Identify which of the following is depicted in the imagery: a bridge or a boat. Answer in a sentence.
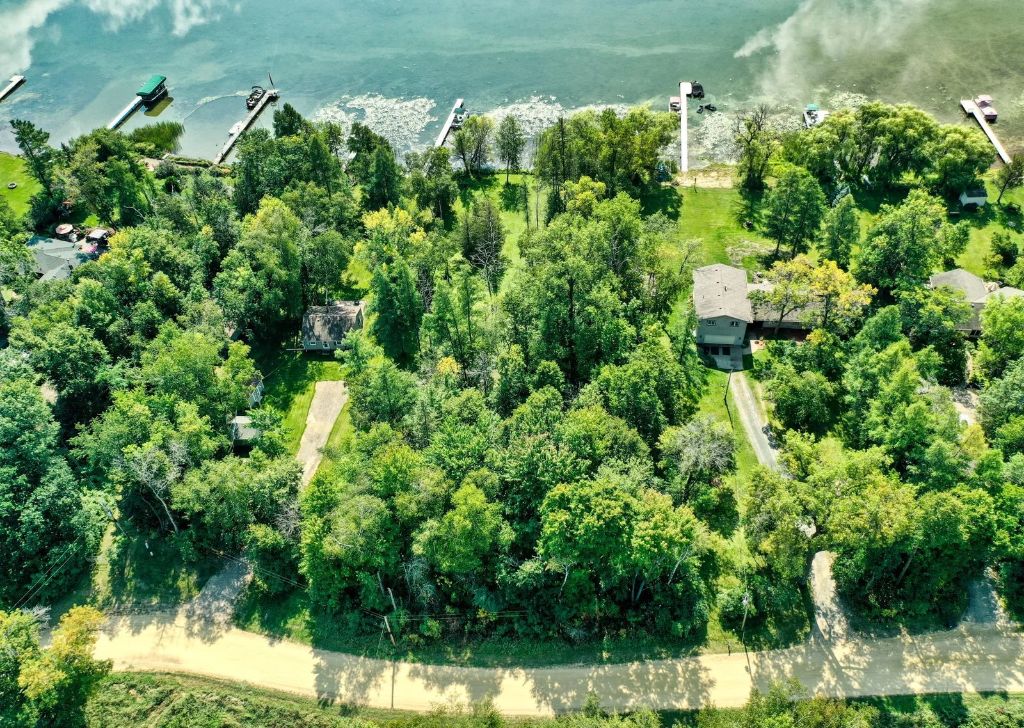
There is a boat in the scene.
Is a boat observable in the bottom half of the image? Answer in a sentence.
No, I can find no boat in the bottom half of the image.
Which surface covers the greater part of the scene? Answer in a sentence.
For the most part, this view shows trees.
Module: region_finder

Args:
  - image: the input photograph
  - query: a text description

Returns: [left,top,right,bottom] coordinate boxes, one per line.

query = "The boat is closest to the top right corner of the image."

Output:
[976,92,1000,123]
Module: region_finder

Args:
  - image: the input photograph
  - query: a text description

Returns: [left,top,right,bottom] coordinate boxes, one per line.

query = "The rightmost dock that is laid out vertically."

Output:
[678,80,692,174]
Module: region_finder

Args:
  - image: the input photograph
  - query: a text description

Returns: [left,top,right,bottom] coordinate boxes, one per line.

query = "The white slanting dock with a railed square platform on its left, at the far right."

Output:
[961,100,1013,164]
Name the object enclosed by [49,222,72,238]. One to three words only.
umbrella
